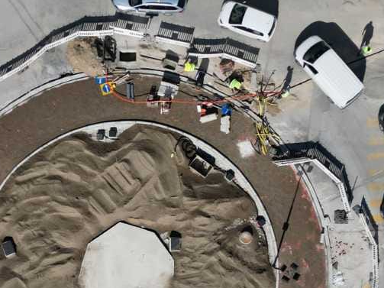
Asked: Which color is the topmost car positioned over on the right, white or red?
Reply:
white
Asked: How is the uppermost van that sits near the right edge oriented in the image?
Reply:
on a diagonal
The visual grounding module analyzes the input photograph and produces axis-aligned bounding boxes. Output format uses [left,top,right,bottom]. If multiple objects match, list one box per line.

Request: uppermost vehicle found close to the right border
[295,31,366,110]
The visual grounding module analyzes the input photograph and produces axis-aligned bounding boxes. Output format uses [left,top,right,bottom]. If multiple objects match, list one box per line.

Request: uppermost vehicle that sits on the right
[216,0,279,42]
